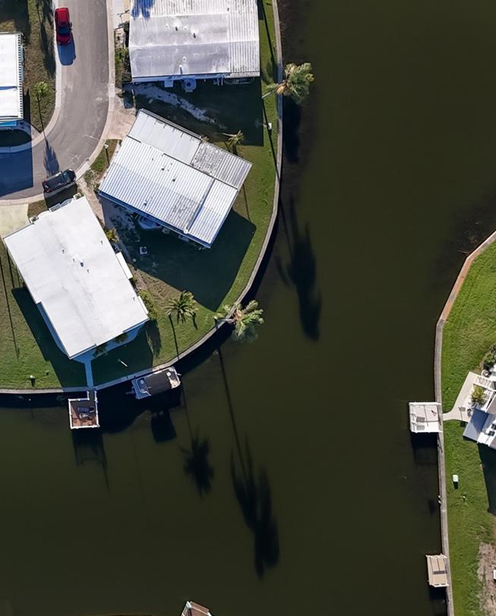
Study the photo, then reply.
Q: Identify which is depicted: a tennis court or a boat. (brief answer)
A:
boat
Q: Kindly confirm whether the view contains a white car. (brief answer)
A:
No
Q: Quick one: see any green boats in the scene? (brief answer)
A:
No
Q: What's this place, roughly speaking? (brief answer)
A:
residential area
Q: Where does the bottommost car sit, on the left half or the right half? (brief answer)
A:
left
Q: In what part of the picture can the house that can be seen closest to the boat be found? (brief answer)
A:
left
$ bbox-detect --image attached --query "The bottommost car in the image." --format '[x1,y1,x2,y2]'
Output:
[39,169,77,194]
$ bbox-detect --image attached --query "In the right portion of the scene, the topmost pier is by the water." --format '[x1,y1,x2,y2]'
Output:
[408,403,444,435]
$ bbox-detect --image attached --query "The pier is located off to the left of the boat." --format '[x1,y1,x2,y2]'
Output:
[67,390,102,431]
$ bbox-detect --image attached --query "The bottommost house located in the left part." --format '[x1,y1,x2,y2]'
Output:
[4,193,148,359]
